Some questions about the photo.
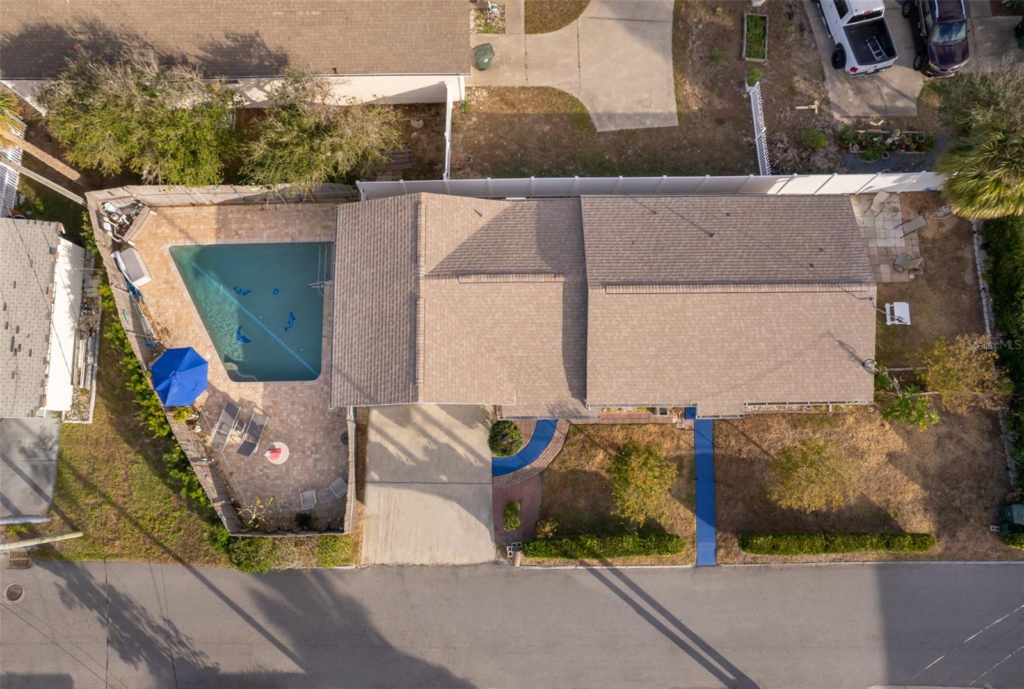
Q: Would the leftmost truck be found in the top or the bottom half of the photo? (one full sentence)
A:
You can find the leftmost truck in the top half.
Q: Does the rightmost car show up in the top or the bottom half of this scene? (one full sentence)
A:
You can find the rightmost car in the top half.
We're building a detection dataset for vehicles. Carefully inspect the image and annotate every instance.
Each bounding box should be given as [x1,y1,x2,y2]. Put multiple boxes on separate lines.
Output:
[903,0,970,82]
[828,0,904,80]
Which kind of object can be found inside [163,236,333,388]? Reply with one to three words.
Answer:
swimming pool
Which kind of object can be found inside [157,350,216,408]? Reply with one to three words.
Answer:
umbrella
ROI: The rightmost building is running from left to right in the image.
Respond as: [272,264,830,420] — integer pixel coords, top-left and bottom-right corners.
[326,191,875,424]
